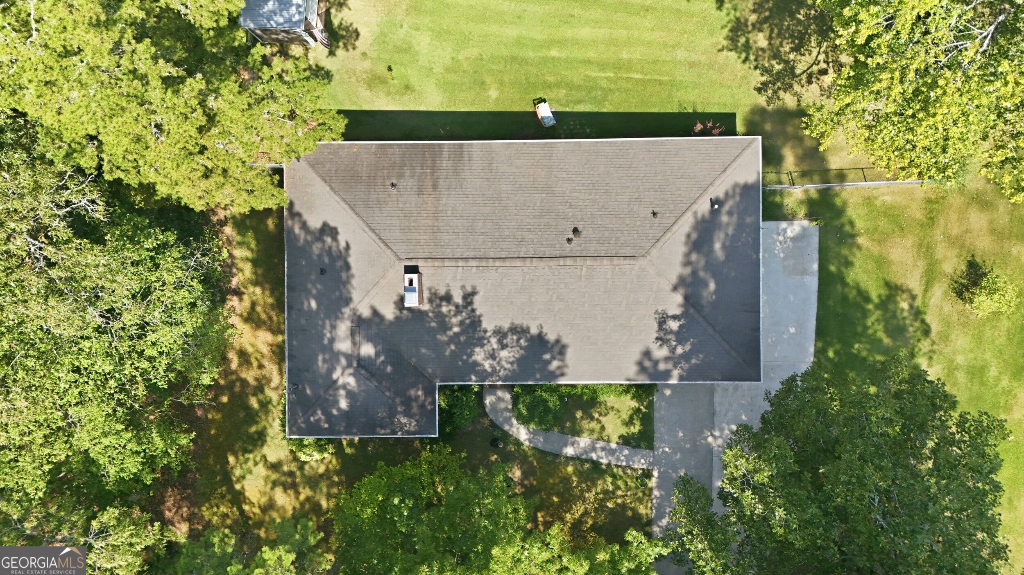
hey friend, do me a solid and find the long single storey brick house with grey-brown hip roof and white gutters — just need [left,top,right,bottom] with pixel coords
[282,134,764,440]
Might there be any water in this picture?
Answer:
No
